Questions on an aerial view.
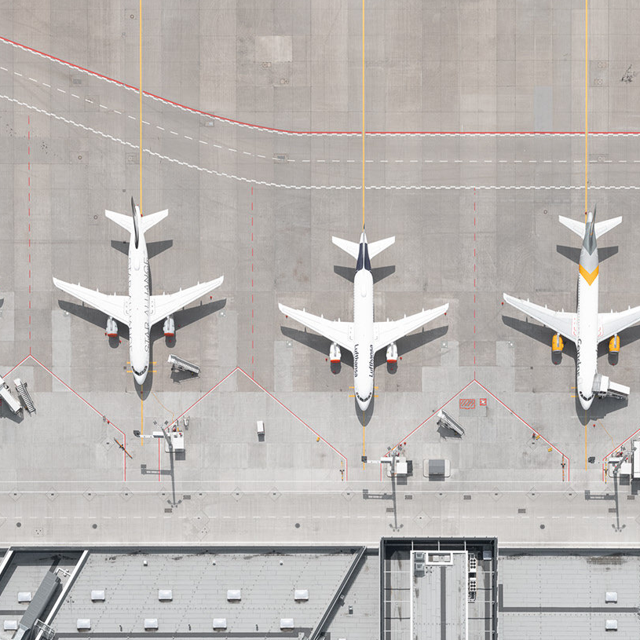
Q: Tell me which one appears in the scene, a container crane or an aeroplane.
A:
aeroplane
